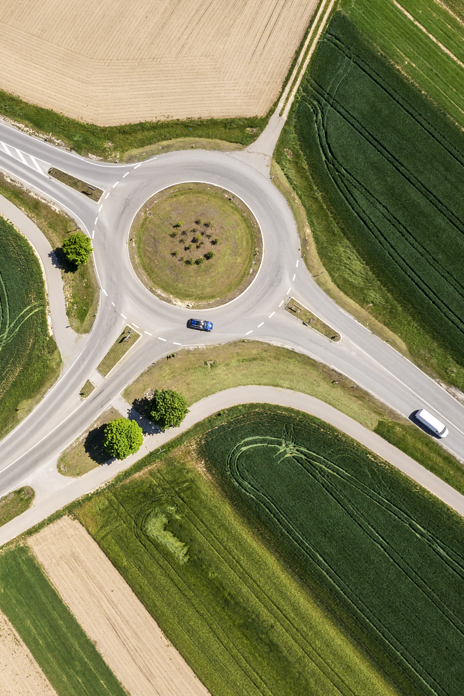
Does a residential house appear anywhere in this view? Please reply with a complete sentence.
No, no residential house can be seen from above.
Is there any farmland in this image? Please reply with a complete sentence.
Yes, farmland can be seen from above here.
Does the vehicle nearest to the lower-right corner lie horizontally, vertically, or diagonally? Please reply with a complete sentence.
The vehicle nearest to the lower-right corner runs diagonally in the image.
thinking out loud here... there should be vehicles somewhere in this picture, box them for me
[414,409,450,436]
[189,319,213,331]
